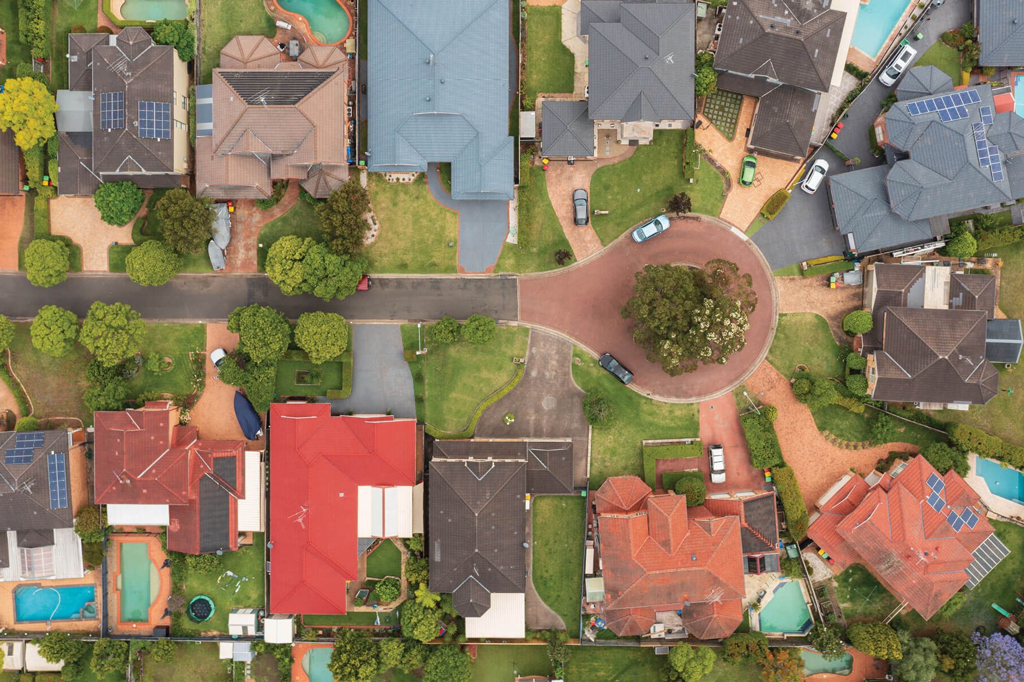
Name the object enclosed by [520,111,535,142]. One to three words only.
shed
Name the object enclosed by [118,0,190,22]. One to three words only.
swimming pool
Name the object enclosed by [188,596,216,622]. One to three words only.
trampoline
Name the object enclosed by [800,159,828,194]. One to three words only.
car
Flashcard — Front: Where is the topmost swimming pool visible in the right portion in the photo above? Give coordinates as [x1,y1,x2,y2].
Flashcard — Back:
[849,0,910,63]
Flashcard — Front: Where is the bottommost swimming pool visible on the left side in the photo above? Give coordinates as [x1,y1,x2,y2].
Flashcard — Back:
[299,646,335,682]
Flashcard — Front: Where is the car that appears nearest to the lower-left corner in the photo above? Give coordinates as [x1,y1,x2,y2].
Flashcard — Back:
[213,351,230,371]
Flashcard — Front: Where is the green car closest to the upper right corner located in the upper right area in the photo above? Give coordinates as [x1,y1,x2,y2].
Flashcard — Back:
[738,155,757,188]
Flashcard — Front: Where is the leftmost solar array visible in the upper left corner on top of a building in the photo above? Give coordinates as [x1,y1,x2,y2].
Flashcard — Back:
[100,91,124,129]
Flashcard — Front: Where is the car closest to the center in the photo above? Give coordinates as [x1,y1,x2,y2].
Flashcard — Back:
[599,353,635,384]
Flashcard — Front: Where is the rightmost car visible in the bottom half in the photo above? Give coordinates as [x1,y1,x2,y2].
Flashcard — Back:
[708,443,727,483]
